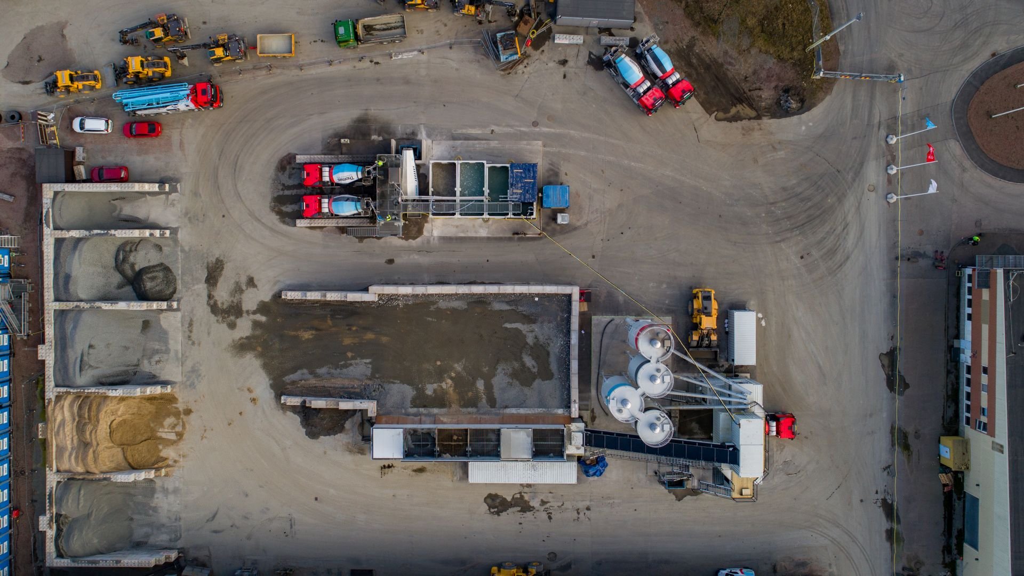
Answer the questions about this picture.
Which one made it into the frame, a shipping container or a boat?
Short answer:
shipping container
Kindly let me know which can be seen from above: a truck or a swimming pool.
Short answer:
truck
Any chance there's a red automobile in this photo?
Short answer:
Yes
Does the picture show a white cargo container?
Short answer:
Yes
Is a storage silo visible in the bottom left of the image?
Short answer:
No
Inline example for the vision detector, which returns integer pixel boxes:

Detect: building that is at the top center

[555,0,636,34]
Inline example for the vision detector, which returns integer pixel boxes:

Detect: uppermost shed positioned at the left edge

[33,148,82,184]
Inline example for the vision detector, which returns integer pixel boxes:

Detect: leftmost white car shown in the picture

[74,115,114,135]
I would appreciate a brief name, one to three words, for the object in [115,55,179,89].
work vehicle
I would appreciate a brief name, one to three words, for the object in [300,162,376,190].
truck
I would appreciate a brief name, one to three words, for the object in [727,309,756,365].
shipping container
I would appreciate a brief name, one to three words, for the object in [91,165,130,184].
car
